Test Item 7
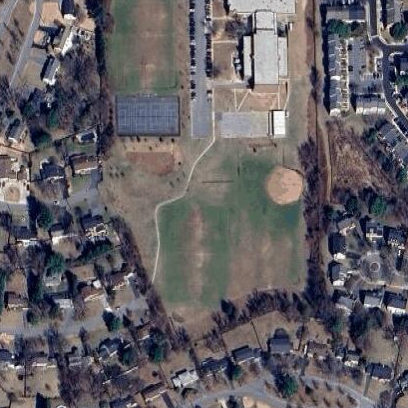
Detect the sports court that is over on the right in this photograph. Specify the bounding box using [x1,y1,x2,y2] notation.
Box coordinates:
[221,111,269,139]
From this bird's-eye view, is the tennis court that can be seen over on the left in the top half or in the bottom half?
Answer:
top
